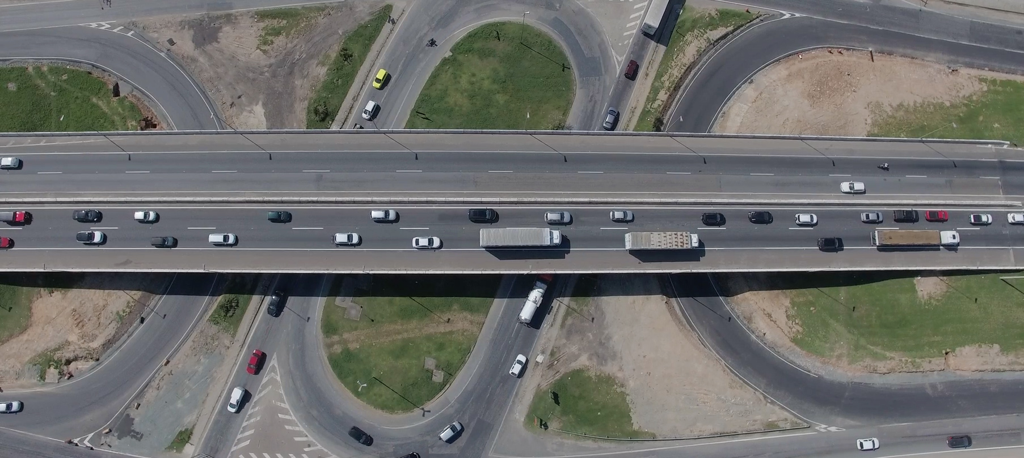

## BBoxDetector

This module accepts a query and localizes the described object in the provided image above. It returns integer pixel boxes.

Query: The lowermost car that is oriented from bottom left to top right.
[436,421,463,447]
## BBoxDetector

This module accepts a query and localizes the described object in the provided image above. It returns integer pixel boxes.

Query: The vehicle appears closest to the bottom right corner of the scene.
[947,436,975,450]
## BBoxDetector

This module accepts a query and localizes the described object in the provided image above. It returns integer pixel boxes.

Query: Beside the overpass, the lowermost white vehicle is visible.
[518,274,556,328]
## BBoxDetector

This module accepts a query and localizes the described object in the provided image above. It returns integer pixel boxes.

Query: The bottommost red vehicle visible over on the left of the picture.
[245,349,263,377]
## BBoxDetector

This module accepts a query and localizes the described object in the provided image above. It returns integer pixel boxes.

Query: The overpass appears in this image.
[0,130,1024,274]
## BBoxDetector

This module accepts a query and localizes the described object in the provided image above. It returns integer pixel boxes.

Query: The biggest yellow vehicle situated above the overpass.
[372,67,388,88]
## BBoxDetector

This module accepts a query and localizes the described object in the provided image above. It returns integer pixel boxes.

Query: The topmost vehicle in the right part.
[644,0,672,34]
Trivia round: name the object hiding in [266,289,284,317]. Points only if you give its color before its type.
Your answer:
black car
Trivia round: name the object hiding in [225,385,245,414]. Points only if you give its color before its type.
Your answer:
white vehicle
